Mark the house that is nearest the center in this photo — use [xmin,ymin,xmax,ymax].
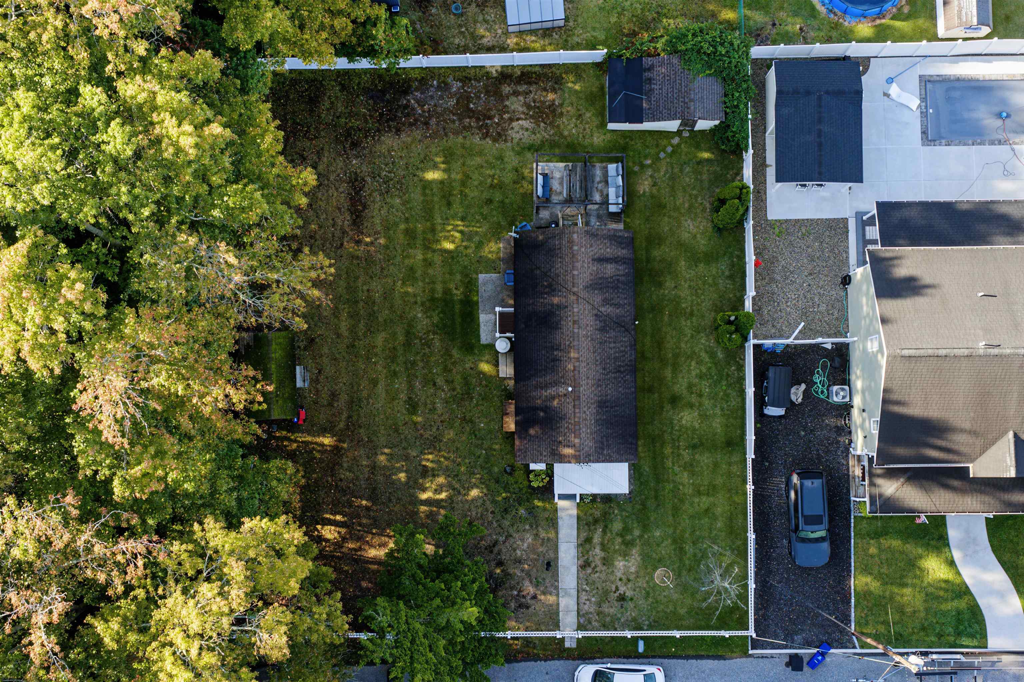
[496,227,639,507]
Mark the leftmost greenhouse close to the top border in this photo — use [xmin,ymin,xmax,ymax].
[507,0,565,32]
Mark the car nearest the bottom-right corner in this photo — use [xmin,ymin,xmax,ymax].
[785,470,836,564]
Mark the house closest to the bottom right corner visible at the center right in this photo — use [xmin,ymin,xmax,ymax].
[850,199,1024,520]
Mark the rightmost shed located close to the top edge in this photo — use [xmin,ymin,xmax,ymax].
[938,0,1008,38]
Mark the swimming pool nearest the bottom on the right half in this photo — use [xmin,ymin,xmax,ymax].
[920,74,1024,146]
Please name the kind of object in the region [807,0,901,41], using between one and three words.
swimming pool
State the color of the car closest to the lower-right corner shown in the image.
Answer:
blue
